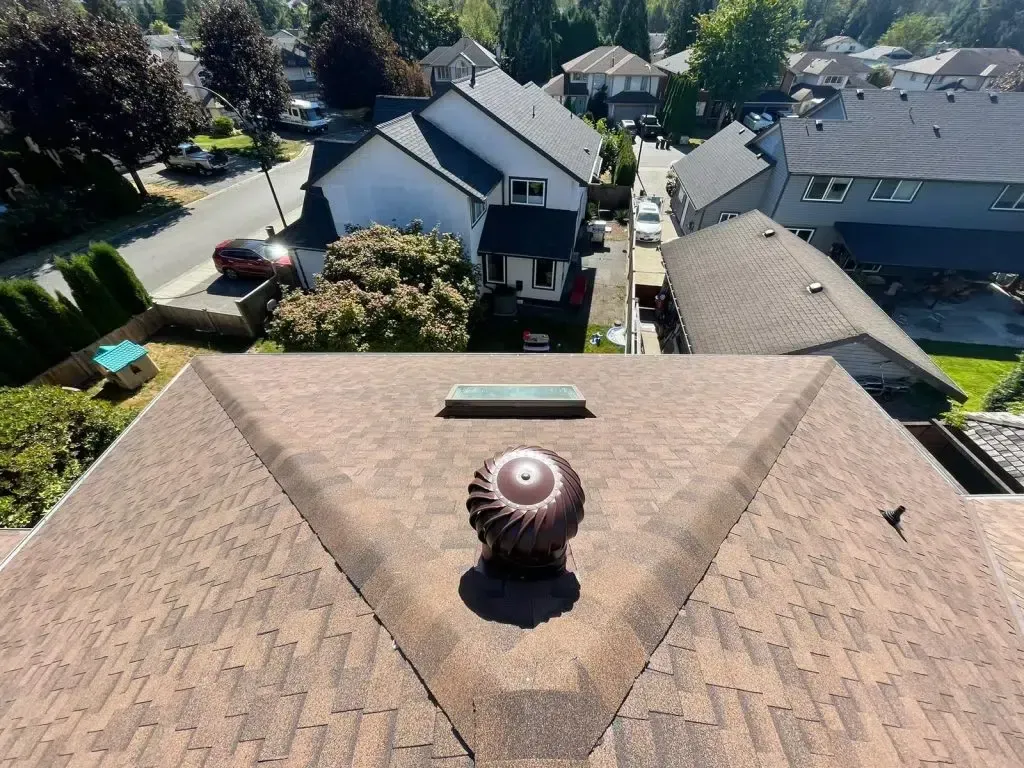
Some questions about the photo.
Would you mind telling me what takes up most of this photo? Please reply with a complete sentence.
For the most part, this view shows buildings.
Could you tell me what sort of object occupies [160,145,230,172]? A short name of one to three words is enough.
truck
